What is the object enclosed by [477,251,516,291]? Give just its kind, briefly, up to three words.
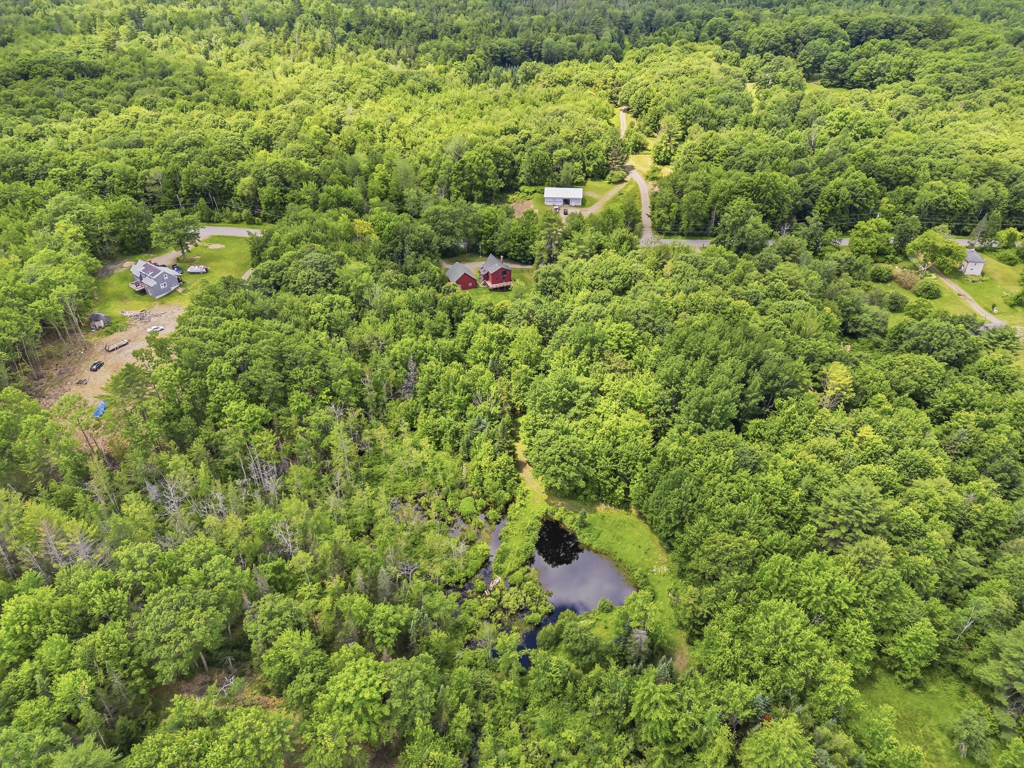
house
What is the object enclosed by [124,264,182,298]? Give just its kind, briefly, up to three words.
house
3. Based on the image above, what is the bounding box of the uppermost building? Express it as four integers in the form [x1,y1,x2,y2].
[544,187,583,205]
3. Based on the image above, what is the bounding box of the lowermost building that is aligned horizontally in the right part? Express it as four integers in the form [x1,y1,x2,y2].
[983,316,1021,334]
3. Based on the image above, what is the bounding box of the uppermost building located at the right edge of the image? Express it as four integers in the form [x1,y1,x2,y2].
[952,249,988,275]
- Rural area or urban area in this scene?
rural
